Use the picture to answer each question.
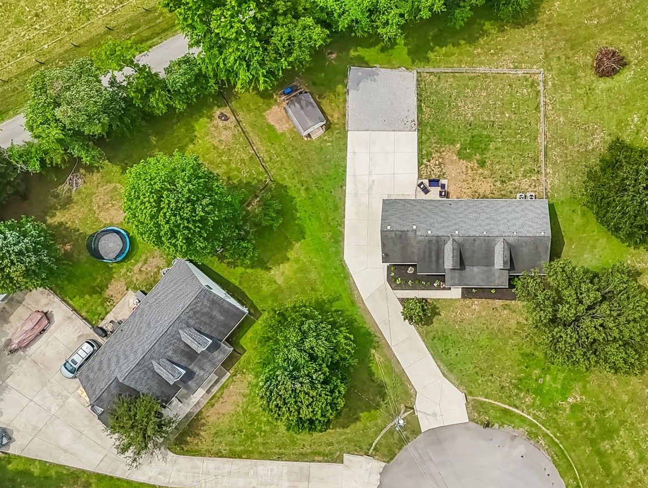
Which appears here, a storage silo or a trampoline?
trampoline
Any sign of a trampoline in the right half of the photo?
No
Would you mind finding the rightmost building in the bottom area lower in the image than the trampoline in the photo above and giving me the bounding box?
[78,255,251,420]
